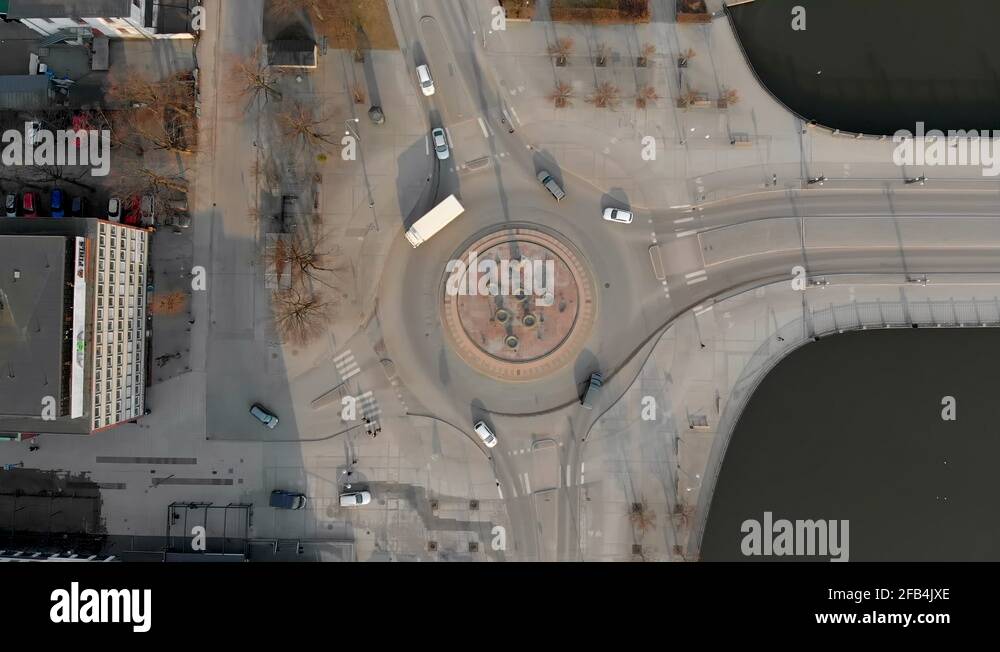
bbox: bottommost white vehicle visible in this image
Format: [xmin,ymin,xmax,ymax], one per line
[339,491,371,508]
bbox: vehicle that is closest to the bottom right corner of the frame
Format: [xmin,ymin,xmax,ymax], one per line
[580,374,604,410]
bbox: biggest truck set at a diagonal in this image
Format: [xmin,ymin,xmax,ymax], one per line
[407,190,467,246]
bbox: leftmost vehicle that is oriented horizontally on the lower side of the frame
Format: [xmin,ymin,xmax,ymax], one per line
[269,492,306,509]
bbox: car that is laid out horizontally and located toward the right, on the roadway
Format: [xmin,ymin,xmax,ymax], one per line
[603,207,634,224]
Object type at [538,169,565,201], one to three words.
truck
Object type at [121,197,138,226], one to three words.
car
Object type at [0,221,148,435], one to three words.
building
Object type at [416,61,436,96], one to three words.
car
